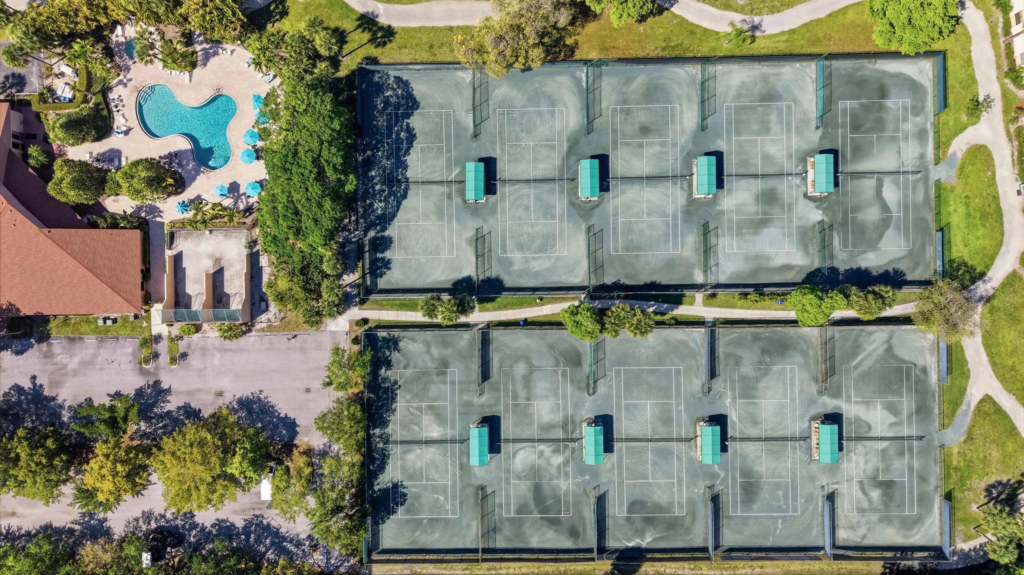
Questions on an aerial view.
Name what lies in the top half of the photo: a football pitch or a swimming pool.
swimming pool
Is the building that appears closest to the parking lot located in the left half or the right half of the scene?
left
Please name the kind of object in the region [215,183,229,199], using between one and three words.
umbrella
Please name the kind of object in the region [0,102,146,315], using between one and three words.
building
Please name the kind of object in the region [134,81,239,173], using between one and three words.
swimming pool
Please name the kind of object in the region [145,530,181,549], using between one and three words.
vehicle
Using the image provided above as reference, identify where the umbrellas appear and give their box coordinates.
[245,181,259,196]
[241,149,256,164]
[243,129,259,145]
[215,183,229,199]
[250,94,264,110]
[176,200,191,213]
